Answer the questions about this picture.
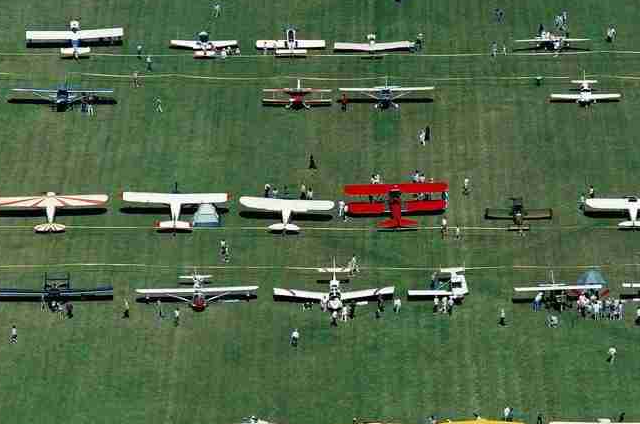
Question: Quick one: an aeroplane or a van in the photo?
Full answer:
Looking from above, you can make out an aeroplane.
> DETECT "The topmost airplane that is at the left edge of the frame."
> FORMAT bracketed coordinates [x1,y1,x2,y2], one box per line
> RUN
[25,17,123,59]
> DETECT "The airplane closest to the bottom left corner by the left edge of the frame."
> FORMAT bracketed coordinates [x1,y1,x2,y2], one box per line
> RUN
[0,272,113,312]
